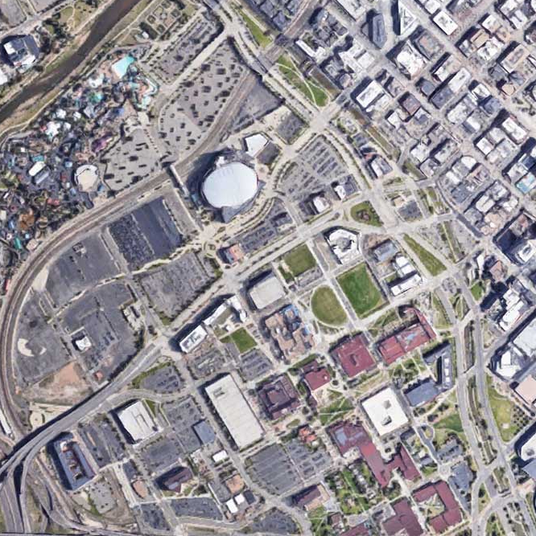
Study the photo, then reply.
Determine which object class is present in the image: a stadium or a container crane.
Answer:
stadium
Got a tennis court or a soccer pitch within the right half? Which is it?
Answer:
soccer pitch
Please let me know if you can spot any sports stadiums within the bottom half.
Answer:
No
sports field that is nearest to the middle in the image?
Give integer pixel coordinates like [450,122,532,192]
[283,243,318,278]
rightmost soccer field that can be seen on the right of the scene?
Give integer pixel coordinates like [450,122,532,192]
[337,262,389,316]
